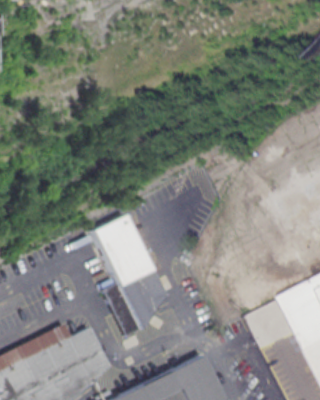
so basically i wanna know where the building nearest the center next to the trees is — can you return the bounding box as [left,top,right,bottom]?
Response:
[87,213,170,336]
